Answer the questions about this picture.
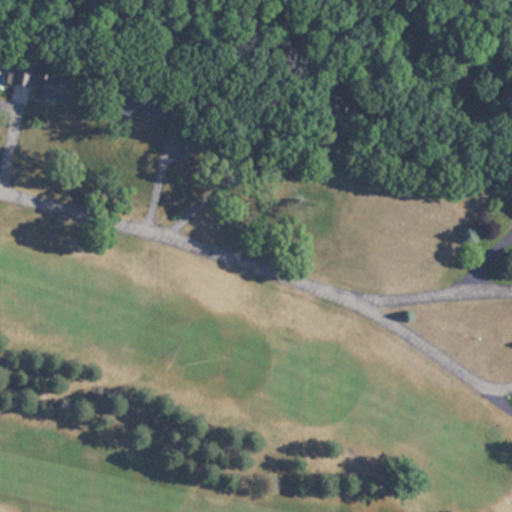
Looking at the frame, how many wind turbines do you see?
0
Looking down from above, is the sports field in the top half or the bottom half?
bottom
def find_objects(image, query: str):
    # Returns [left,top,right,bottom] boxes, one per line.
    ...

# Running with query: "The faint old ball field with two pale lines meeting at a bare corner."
[166,270,270,408]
